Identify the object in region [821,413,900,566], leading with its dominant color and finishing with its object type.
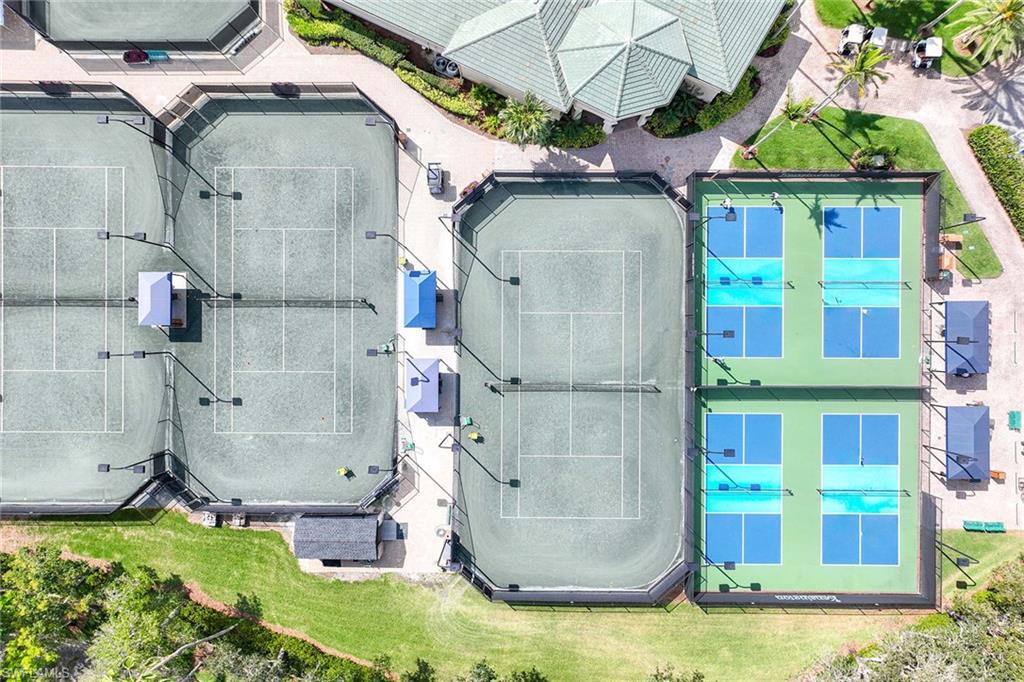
blue sports court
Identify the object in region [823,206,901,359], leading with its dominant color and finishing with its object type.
blue sports court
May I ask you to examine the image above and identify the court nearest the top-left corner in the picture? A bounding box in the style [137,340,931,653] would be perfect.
[26,0,264,57]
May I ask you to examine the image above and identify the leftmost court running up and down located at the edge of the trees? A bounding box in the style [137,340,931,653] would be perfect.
[0,92,173,506]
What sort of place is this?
sports ground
